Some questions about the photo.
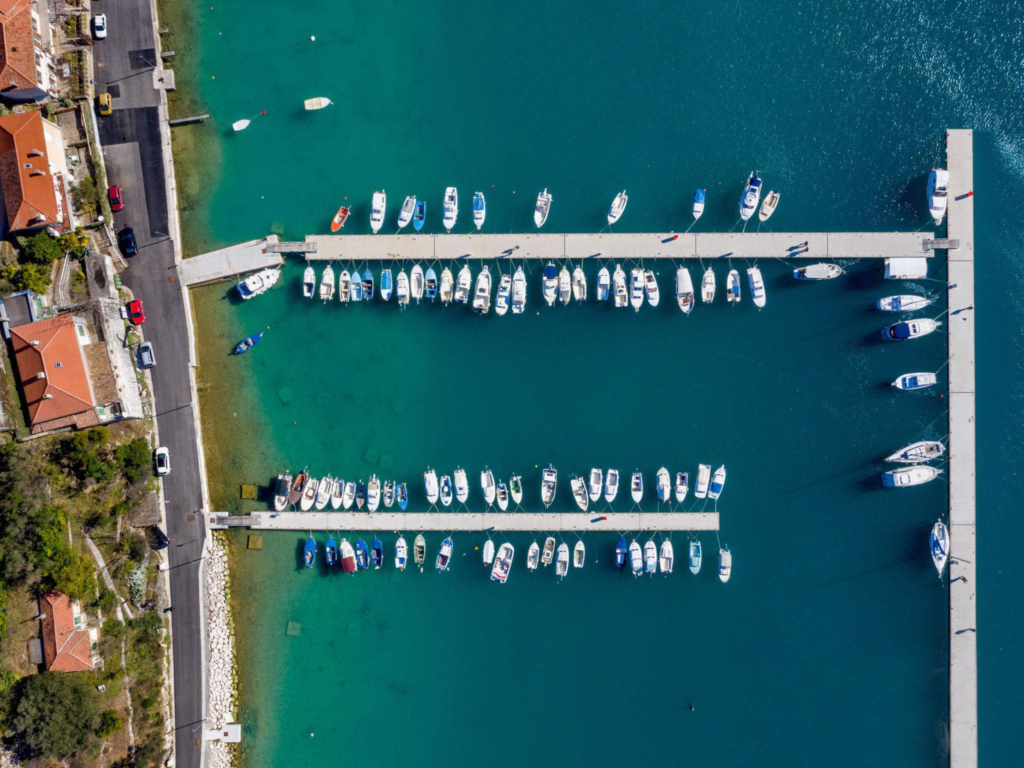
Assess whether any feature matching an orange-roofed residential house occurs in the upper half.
Yes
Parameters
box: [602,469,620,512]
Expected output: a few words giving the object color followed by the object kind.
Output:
white boat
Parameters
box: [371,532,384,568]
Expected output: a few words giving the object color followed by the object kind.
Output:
blue boat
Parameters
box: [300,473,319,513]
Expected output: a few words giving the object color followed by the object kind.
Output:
white boat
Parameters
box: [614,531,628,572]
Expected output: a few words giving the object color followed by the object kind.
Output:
blue boat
